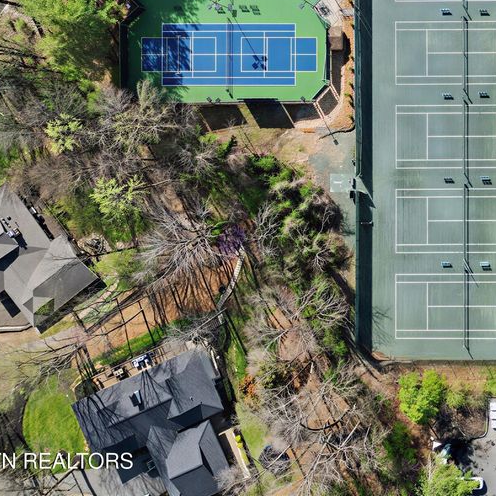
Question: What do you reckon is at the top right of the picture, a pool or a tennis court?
tennis court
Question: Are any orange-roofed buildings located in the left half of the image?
No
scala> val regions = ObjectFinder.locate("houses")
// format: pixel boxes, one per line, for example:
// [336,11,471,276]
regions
[71,341,236,496]
[0,183,105,328]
